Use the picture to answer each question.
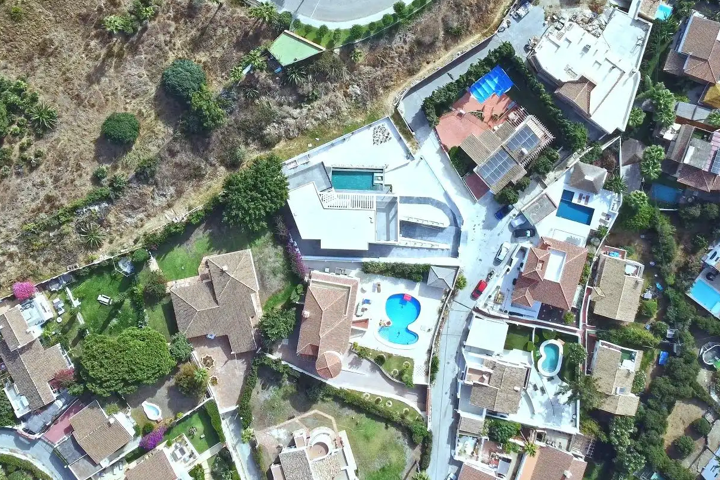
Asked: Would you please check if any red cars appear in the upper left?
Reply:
No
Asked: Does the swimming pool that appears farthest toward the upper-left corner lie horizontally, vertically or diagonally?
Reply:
horizontally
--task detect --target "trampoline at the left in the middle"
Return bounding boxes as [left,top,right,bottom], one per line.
[116,256,135,274]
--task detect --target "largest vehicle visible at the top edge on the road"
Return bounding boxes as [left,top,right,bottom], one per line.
[515,1,532,18]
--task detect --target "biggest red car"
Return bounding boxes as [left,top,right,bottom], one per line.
[471,279,488,299]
